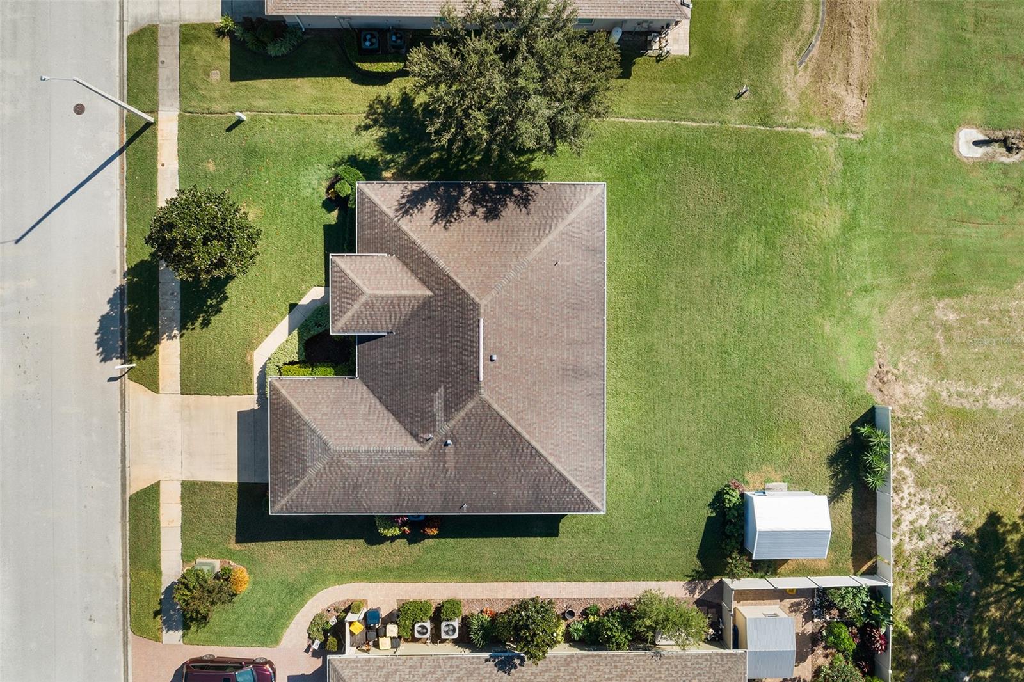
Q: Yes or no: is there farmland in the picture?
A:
No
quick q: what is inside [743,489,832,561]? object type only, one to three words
shed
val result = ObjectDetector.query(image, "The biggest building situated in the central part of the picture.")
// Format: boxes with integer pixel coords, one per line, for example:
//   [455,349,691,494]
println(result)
[267,180,608,516]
